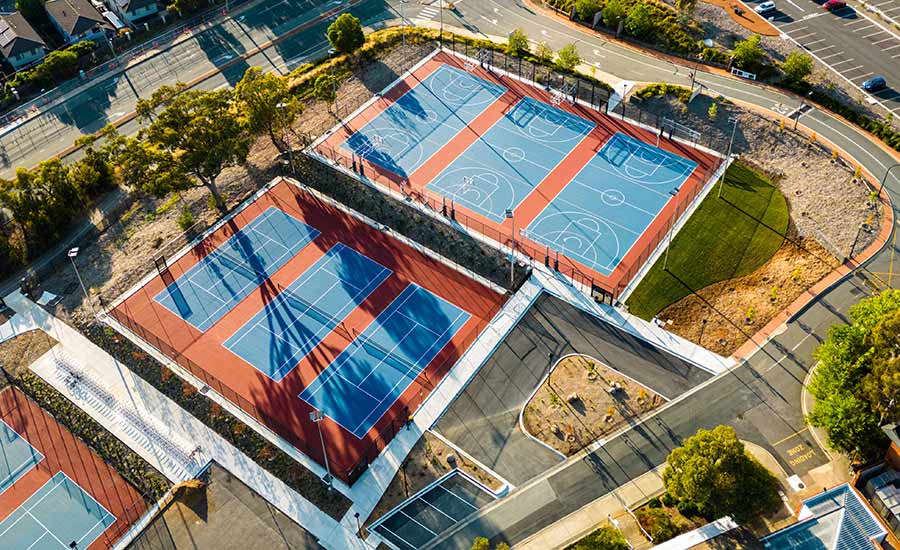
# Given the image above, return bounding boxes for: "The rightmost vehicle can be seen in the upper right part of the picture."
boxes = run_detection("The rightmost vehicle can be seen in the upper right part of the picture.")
[863,76,887,92]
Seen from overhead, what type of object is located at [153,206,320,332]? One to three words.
tennis court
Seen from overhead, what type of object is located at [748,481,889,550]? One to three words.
building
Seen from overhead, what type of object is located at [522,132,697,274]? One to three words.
basketball court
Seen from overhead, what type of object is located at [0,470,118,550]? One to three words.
tennis court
